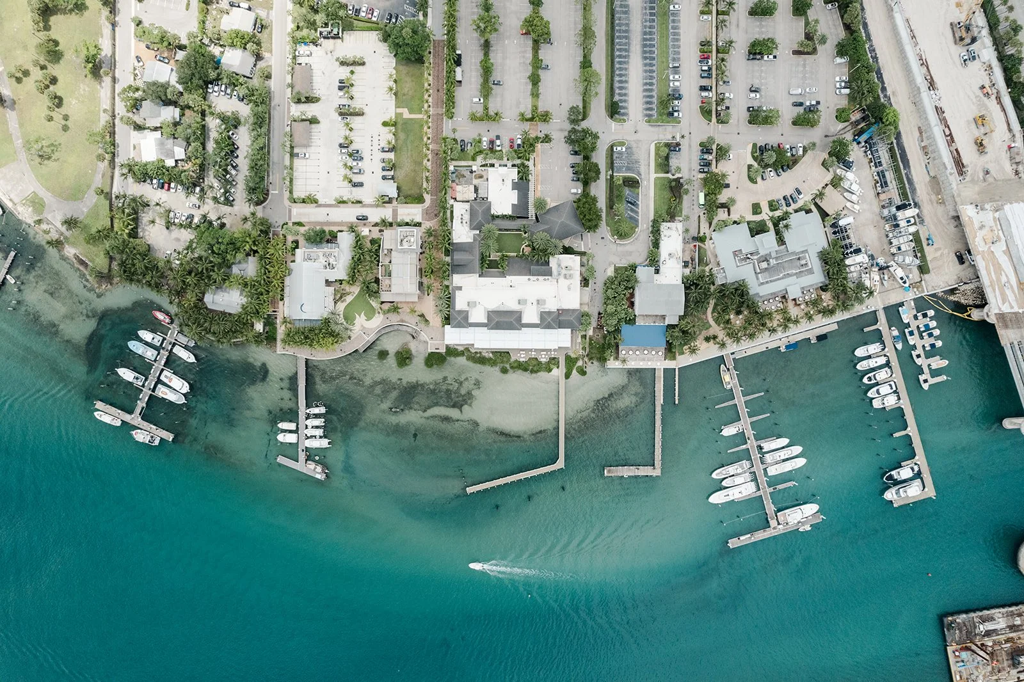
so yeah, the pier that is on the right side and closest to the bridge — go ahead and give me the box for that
[904,300,946,383]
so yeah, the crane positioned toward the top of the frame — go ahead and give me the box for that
[953,0,993,45]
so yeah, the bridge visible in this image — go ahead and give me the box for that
[957,203,1024,432]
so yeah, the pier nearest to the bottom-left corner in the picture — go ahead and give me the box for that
[93,322,189,442]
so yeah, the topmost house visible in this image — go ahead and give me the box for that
[221,8,257,35]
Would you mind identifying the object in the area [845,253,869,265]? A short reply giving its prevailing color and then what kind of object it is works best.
white boat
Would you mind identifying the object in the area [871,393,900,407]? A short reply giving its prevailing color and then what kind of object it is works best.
white boat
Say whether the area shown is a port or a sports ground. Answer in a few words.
port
